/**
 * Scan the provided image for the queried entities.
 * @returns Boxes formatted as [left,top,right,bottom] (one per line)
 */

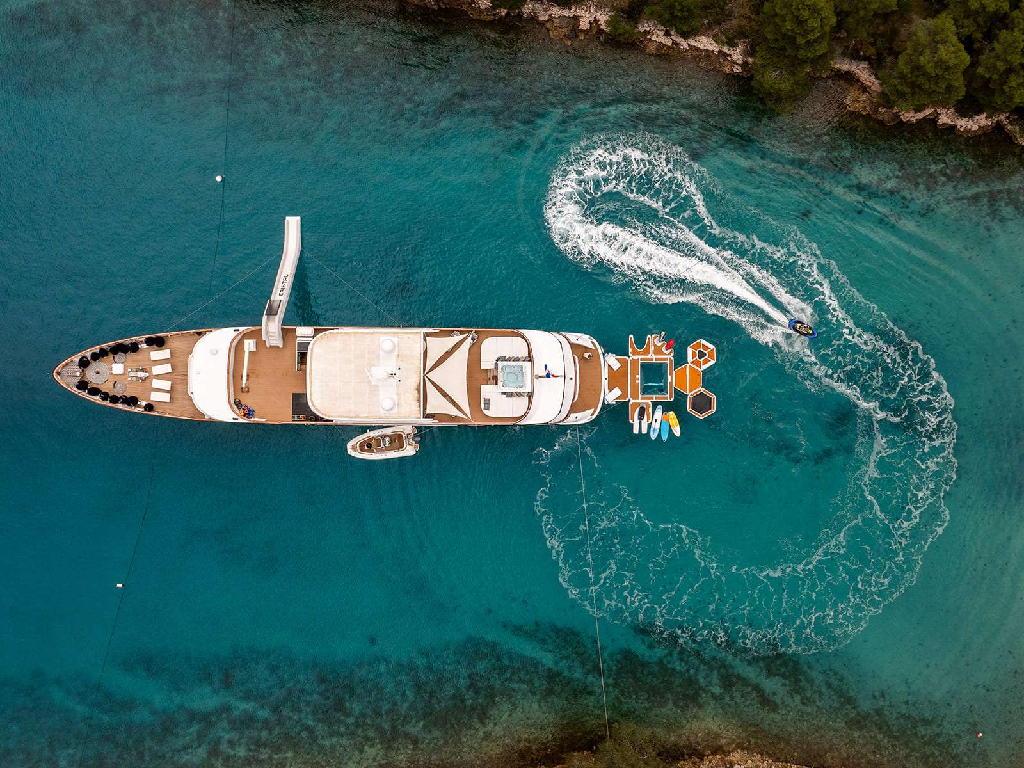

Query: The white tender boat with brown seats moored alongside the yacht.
[347,425,420,459]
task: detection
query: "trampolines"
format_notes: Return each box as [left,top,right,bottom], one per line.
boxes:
[688,388,715,419]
